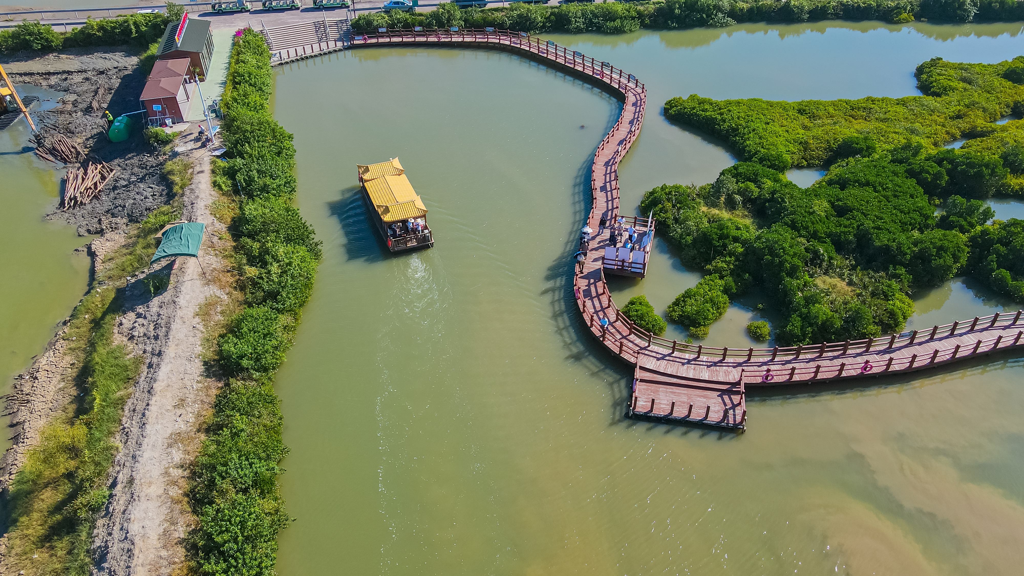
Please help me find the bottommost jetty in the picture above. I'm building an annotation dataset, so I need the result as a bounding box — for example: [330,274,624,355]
[627,354,748,437]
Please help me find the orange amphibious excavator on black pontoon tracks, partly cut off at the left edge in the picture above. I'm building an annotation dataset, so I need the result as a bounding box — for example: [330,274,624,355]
[0,59,49,147]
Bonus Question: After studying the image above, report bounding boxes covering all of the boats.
[355,155,434,253]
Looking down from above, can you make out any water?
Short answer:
Yes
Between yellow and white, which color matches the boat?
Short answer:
yellow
